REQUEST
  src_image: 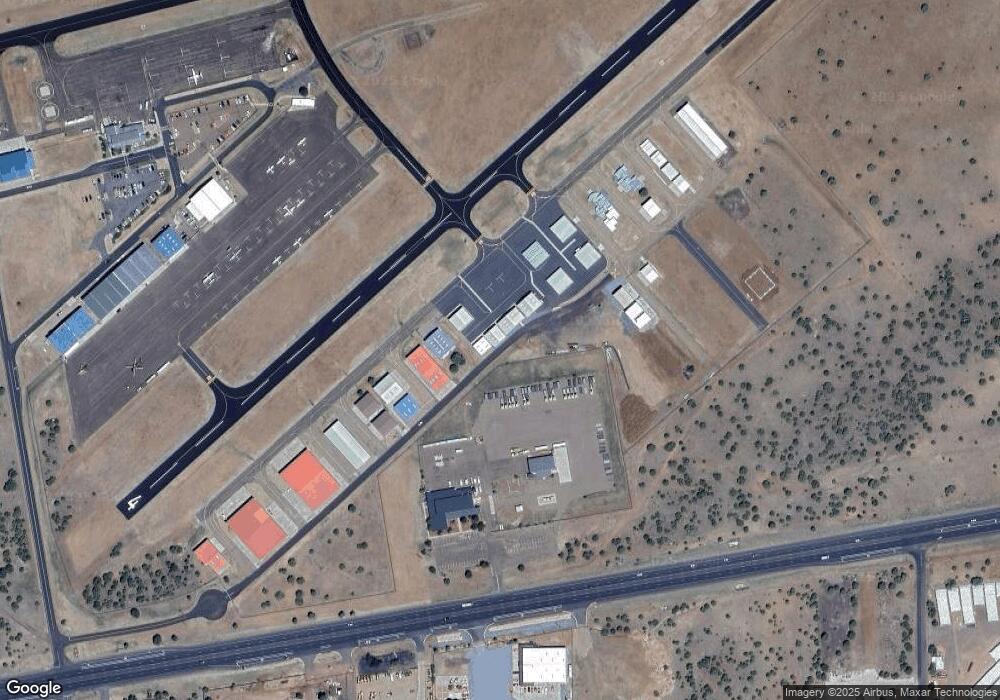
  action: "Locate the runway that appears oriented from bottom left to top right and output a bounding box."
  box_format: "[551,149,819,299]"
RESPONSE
[117,0,698,519]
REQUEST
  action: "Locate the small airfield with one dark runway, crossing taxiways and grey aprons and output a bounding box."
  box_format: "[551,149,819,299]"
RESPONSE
[0,0,772,520]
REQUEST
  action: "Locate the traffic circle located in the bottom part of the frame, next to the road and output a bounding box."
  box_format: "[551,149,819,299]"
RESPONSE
[186,588,231,620]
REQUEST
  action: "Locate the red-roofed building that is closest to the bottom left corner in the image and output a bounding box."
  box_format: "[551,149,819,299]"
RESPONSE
[193,540,225,570]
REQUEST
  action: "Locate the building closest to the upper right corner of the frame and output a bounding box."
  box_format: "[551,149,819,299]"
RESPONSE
[677,103,729,157]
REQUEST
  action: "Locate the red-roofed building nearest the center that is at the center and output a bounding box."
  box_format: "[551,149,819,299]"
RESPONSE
[406,345,449,391]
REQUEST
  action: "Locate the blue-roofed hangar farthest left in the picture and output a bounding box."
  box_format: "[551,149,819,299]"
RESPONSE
[0,148,31,180]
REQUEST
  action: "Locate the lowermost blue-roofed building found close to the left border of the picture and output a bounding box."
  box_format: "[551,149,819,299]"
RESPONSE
[47,308,96,353]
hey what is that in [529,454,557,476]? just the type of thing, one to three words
building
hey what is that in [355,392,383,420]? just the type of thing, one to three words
hangar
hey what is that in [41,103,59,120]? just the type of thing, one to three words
helipad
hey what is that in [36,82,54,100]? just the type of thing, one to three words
helipad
